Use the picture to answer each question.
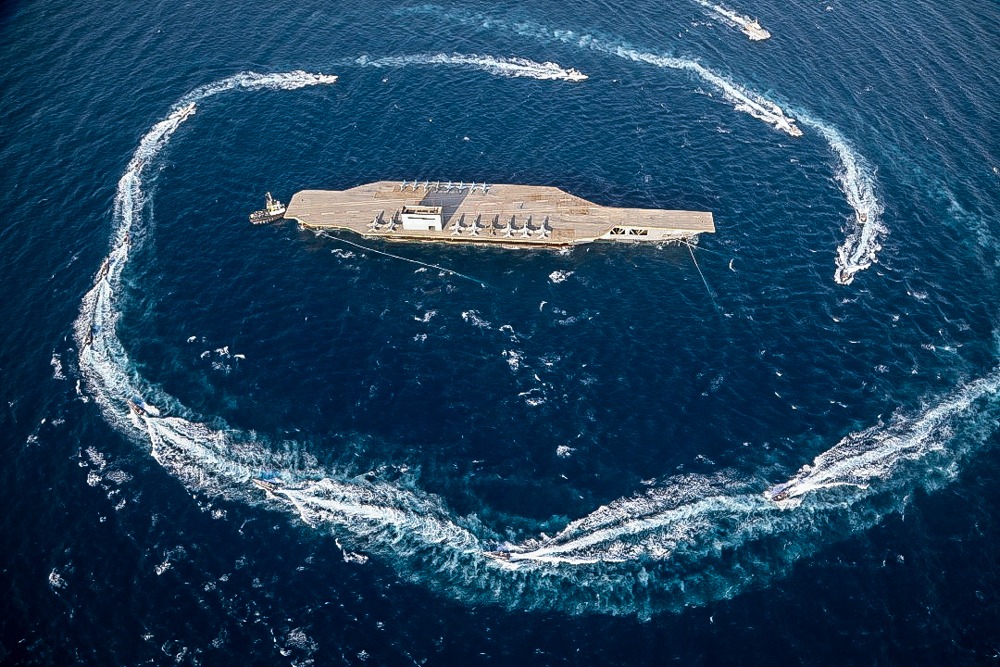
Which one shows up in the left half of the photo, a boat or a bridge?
boat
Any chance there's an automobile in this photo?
No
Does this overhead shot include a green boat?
No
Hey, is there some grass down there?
No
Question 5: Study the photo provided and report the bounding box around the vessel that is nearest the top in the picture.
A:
[746,16,771,38]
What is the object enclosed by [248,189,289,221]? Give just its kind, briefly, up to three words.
boat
